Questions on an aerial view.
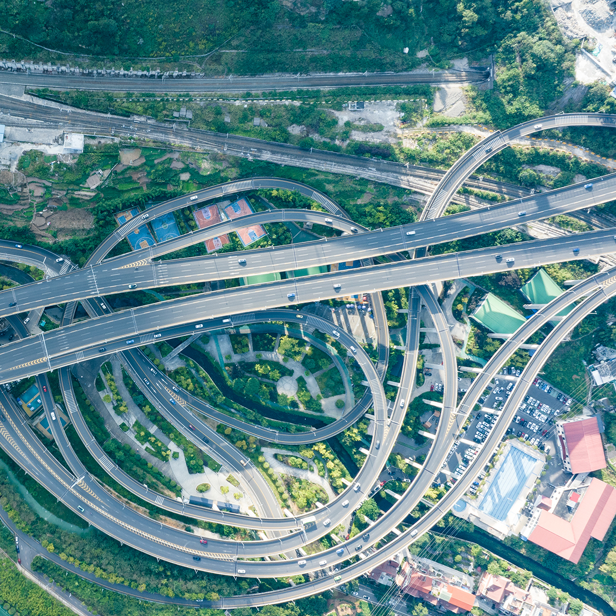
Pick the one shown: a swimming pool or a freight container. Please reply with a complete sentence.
The one in the frame is a swimming pool.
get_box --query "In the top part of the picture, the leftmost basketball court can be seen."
[114,206,156,249]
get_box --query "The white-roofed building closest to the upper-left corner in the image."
[65,132,84,154]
